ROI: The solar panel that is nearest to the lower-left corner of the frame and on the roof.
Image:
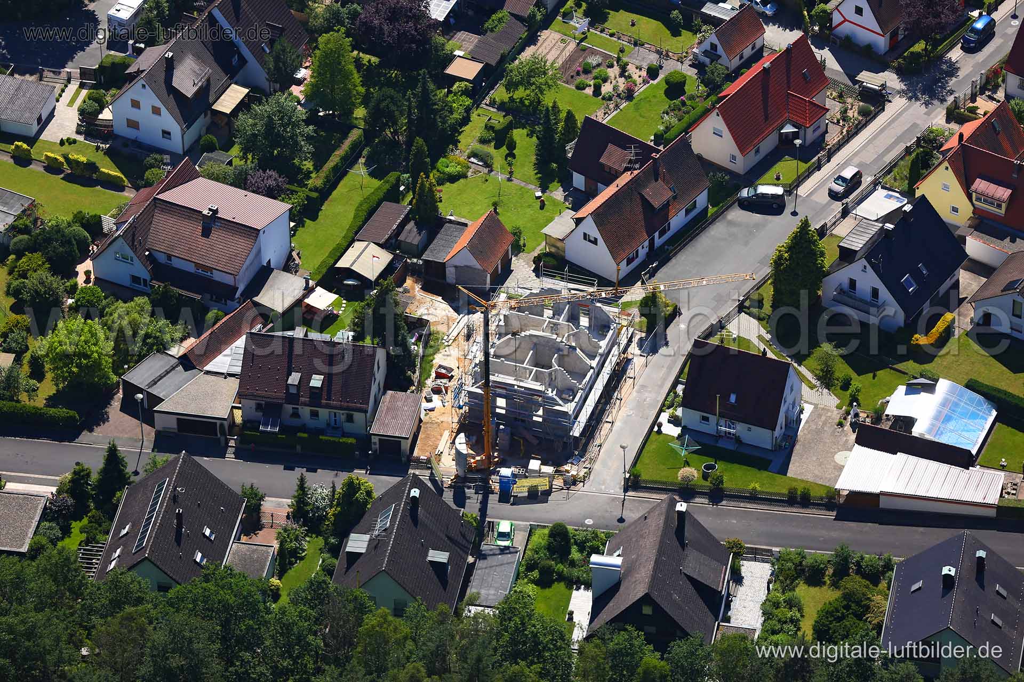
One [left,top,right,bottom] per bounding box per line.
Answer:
[131,476,168,553]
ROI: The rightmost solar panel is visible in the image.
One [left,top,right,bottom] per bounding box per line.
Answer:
[370,502,393,539]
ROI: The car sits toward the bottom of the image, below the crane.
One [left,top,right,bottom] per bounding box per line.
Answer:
[490,513,517,545]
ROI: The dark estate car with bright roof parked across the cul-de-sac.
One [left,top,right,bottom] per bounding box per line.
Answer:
[737,187,786,210]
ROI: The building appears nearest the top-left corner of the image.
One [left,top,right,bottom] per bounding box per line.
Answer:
[0,74,55,139]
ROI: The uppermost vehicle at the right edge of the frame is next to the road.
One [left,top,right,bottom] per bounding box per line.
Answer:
[959,16,998,54]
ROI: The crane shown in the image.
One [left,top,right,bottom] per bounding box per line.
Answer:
[449,255,756,481]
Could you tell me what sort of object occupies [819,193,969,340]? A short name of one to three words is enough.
house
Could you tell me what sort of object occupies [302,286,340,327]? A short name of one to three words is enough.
gazebo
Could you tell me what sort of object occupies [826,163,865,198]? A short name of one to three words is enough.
car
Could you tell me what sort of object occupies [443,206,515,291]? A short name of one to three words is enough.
building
